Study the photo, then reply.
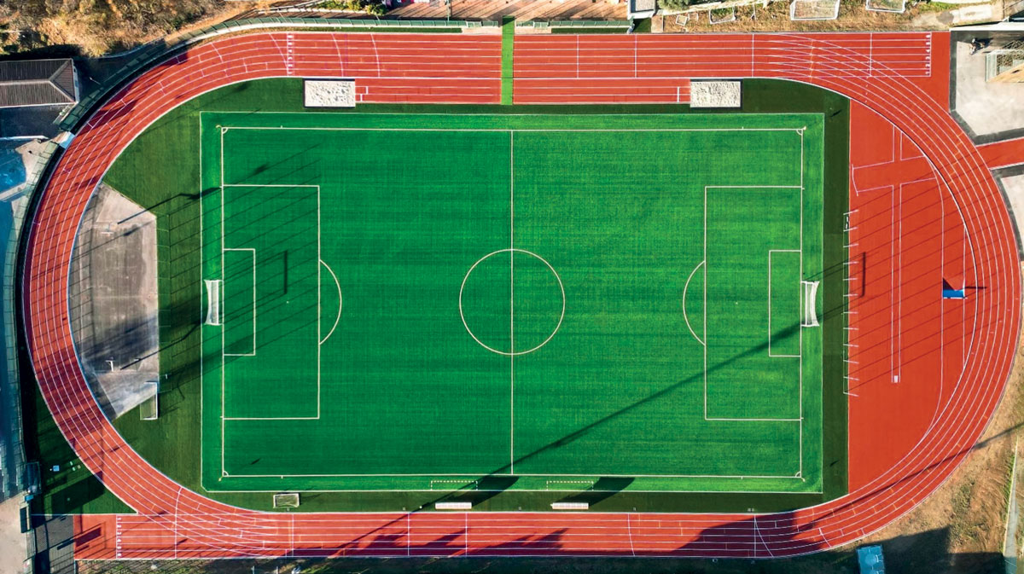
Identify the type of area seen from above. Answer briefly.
sports ground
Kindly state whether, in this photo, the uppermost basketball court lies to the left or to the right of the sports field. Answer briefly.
left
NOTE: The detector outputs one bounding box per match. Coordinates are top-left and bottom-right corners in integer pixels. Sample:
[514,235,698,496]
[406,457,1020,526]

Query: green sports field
[200,112,825,494]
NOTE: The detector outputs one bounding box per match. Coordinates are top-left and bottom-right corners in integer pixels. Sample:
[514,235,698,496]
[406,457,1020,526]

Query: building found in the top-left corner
[0,58,83,107]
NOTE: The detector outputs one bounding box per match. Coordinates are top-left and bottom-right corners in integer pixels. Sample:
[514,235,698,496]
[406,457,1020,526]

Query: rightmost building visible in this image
[986,50,1024,83]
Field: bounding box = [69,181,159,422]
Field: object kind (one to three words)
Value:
basketball court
